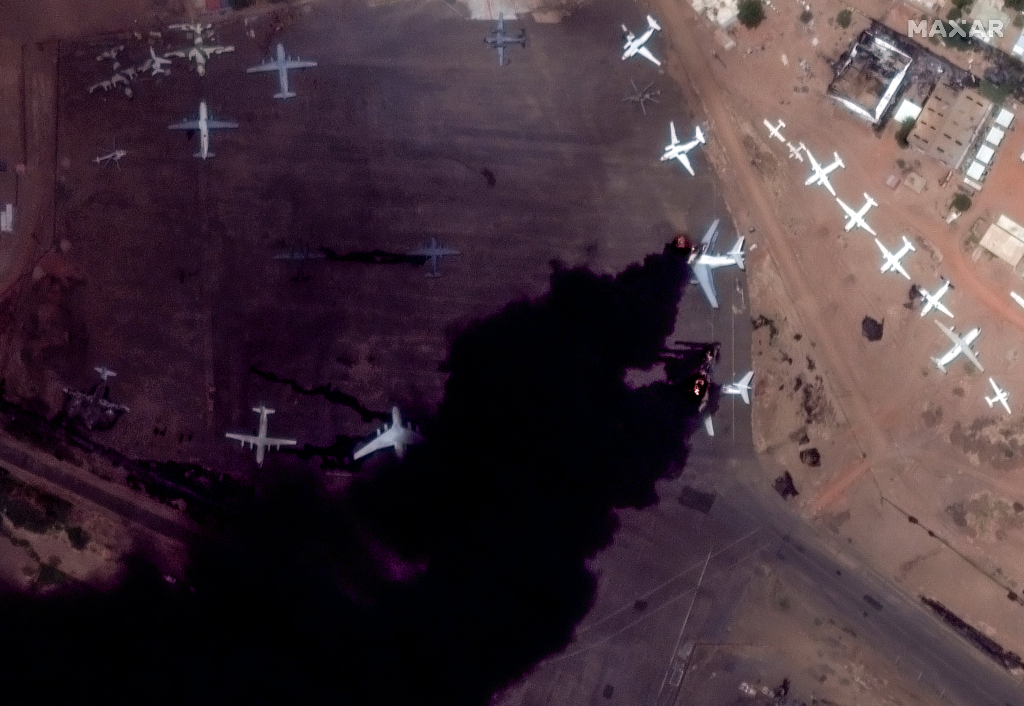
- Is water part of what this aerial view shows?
No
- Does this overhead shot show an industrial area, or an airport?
airport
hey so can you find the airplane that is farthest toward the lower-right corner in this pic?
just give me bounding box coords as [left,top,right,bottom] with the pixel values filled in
[985,378,1011,414]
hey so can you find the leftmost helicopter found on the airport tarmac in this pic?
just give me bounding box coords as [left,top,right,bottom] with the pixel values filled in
[92,137,129,171]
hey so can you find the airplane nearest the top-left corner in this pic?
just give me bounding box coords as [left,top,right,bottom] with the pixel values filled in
[90,45,153,98]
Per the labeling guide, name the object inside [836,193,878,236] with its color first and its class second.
white airplane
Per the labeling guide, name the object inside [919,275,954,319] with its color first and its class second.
white airplane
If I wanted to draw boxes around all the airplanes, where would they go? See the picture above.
[485,13,525,67]
[169,101,239,159]
[355,407,444,491]
[930,320,985,373]
[661,122,706,176]
[985,378,1011,414]
[90,45,153,98]
[153,53,172,75]
[836,193,878,236]
[687,220,747,307]
[787,142,806,162]
[806,150,846,196]
[764,120,785,141]
[247,44,317,99]
[919,275,954,319]
[622,14,661,65]
[408,237,461,276]
[875,236,916,280]
[226,403,296,466]
[165,18,234,76]
[273,239,326,281]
